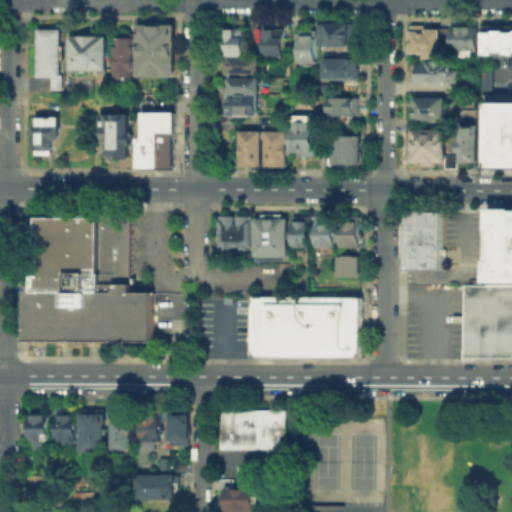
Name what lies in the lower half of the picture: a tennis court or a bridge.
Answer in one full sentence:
Visible in the lower half of the picture is a tennis court.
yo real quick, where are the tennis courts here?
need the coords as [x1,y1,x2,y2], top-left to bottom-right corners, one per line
[346,420,386,502]
[306,420,346,502]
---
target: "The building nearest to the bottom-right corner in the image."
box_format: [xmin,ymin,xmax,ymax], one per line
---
[463,284,512,360]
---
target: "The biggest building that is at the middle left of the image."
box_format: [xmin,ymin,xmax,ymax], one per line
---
[19,218,158,343]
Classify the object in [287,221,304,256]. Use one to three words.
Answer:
house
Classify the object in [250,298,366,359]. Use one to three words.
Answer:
building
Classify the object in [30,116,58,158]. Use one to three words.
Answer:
house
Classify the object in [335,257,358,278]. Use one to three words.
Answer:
building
